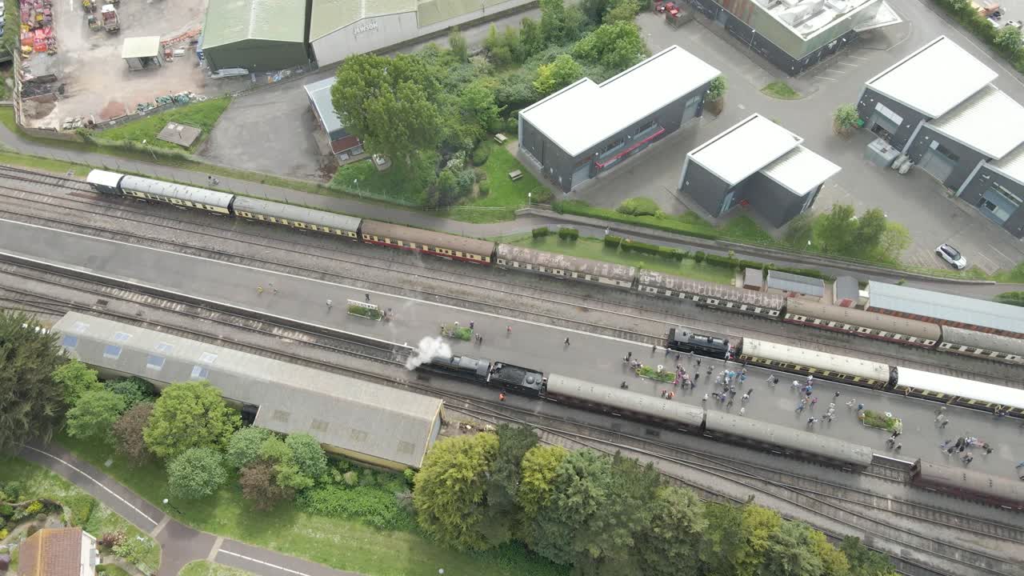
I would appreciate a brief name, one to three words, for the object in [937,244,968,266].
car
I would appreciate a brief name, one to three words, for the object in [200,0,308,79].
building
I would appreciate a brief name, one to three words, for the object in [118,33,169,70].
shed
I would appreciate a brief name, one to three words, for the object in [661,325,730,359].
rail car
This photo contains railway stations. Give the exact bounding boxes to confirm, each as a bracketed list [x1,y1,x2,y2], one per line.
[0,219,1024,480]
